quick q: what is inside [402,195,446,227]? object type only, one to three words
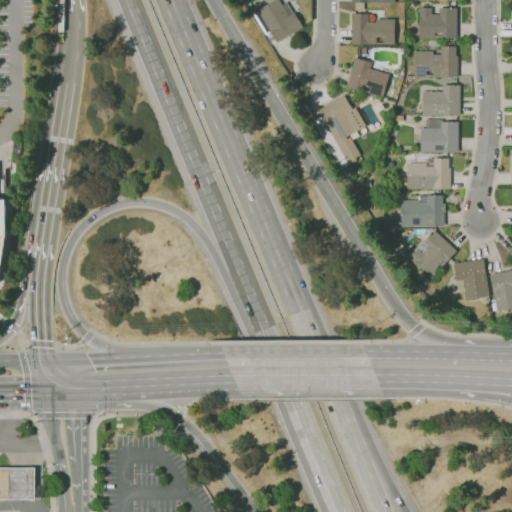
house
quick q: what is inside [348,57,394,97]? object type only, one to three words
house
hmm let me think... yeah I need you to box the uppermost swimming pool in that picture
[374,51,399,64]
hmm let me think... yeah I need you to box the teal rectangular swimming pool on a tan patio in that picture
[362,104,379,125]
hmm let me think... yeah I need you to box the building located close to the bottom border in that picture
[0,468,35,502]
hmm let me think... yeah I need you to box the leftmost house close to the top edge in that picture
[253,0,303,40]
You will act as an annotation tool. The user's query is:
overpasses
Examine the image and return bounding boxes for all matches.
[204,331,403,412]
